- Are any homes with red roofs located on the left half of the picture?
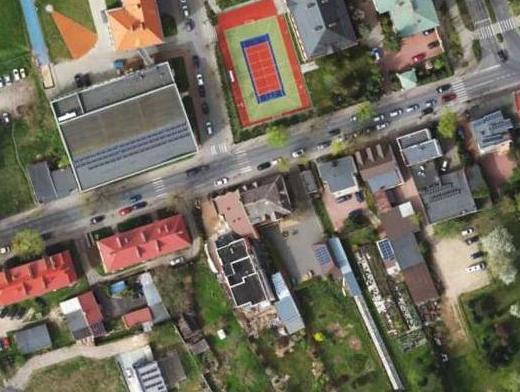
Yes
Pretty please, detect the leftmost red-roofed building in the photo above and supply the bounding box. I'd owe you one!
[0,251,78,306]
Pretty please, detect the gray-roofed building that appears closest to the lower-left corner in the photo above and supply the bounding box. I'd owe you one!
[15,324,51,353]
